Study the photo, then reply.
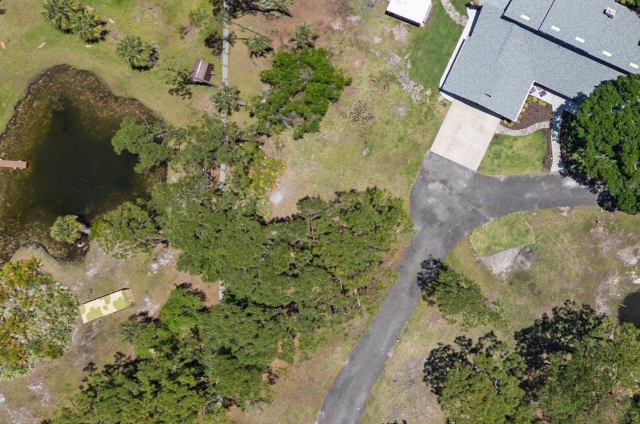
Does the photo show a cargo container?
Yes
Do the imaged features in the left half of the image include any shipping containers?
Yes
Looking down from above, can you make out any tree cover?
Yes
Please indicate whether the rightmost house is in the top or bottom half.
top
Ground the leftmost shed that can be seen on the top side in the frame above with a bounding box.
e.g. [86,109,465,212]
[190,59,219,80]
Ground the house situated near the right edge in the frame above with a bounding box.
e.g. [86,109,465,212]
[442,0,640,122]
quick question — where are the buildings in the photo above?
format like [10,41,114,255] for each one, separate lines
[442,0,640,122]
[385,0,434,30]
[190,59,219,80]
